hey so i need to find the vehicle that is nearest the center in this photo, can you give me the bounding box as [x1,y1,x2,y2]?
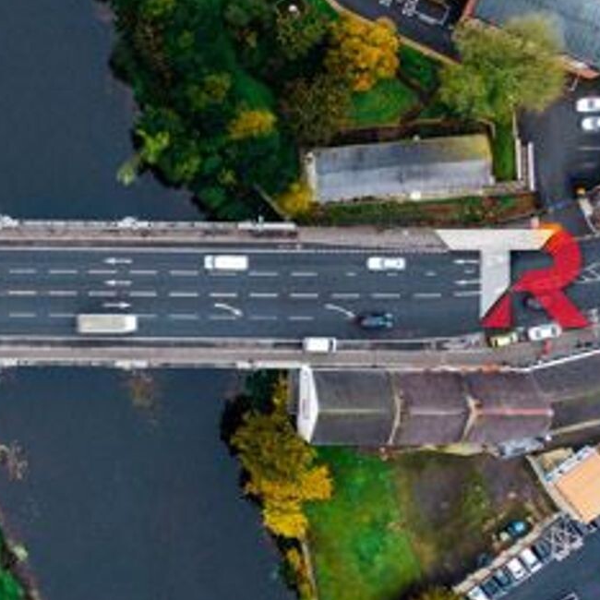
[300,336,332,354]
